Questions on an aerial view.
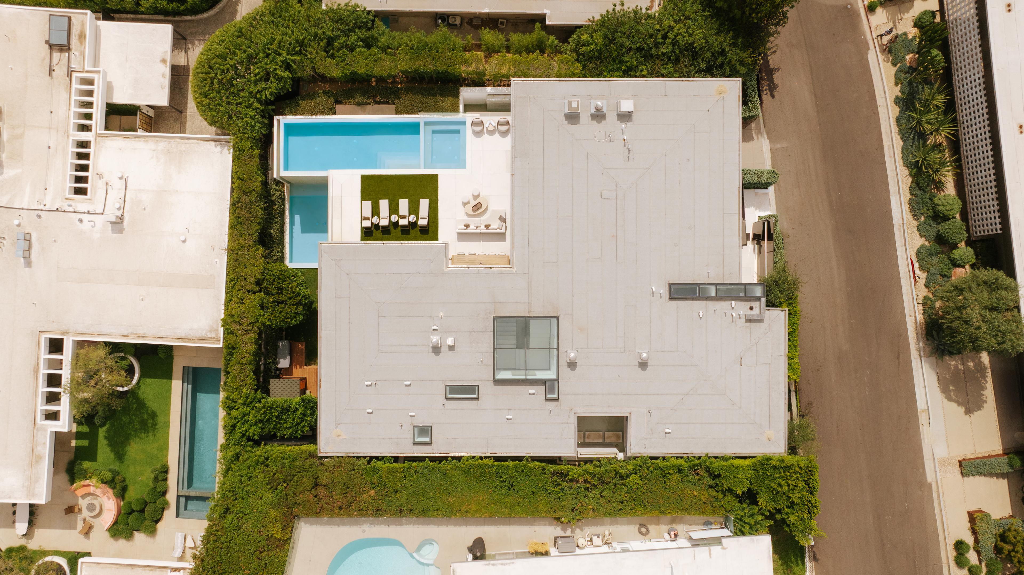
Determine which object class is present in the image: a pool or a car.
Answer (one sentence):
The image shows a pool.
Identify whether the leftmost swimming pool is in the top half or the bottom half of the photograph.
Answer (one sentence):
The leftmost swimming pool is in the bottom half of the image.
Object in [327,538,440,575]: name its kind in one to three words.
swimming pool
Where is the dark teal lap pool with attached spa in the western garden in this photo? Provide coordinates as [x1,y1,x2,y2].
[176,366,243,525]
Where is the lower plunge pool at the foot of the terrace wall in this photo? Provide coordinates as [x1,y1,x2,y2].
[270,174,329,268]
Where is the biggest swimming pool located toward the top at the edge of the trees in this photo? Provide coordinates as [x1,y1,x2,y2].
[274,116,479,190]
